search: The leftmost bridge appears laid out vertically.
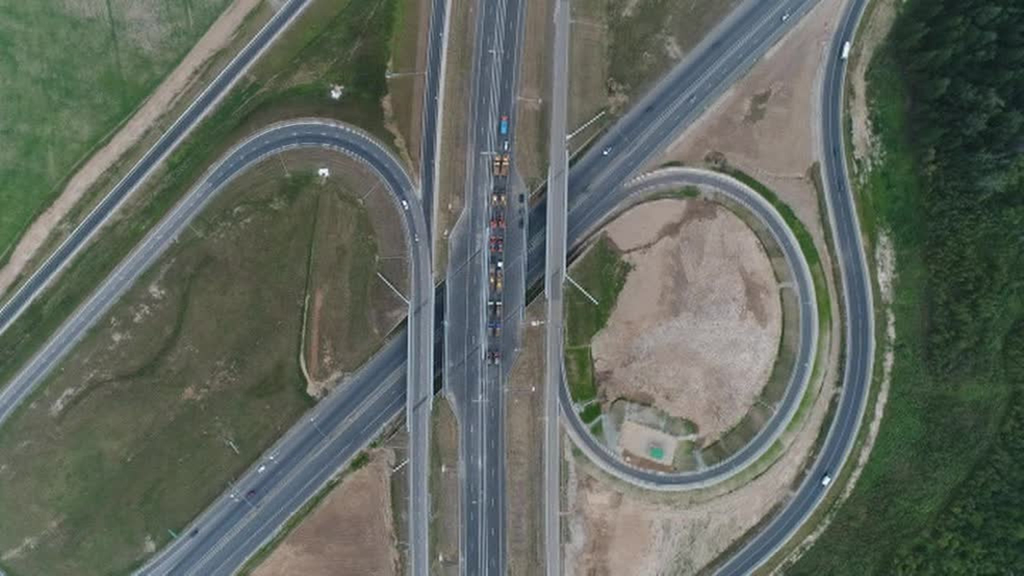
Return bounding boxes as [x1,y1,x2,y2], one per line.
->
[407,277,435,433]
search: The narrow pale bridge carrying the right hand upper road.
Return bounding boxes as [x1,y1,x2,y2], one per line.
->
[544,149,569,299]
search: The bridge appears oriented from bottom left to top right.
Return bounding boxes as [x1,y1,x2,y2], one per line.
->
[444,195,526,399]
